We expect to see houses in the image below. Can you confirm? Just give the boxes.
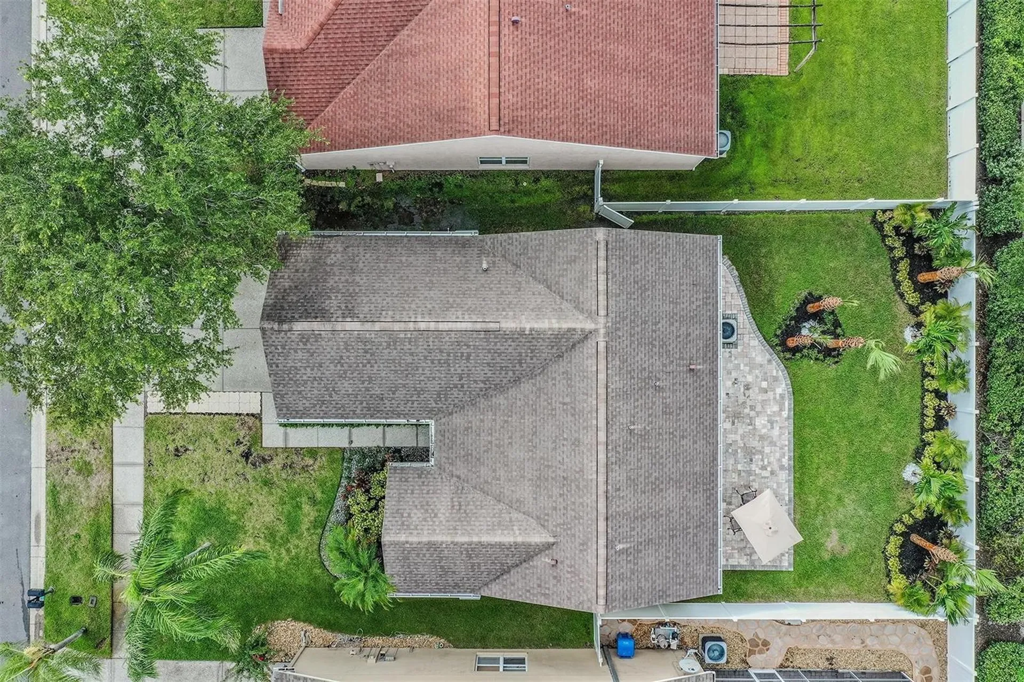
[264,0,720,178]
[259,225,723,614]
[270,645,718,682]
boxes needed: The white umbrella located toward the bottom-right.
[731,488,803,564]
